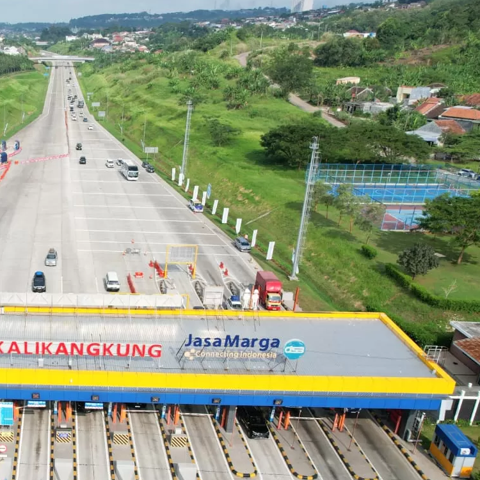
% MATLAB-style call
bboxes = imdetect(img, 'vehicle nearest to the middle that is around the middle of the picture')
[228,234,253,250]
